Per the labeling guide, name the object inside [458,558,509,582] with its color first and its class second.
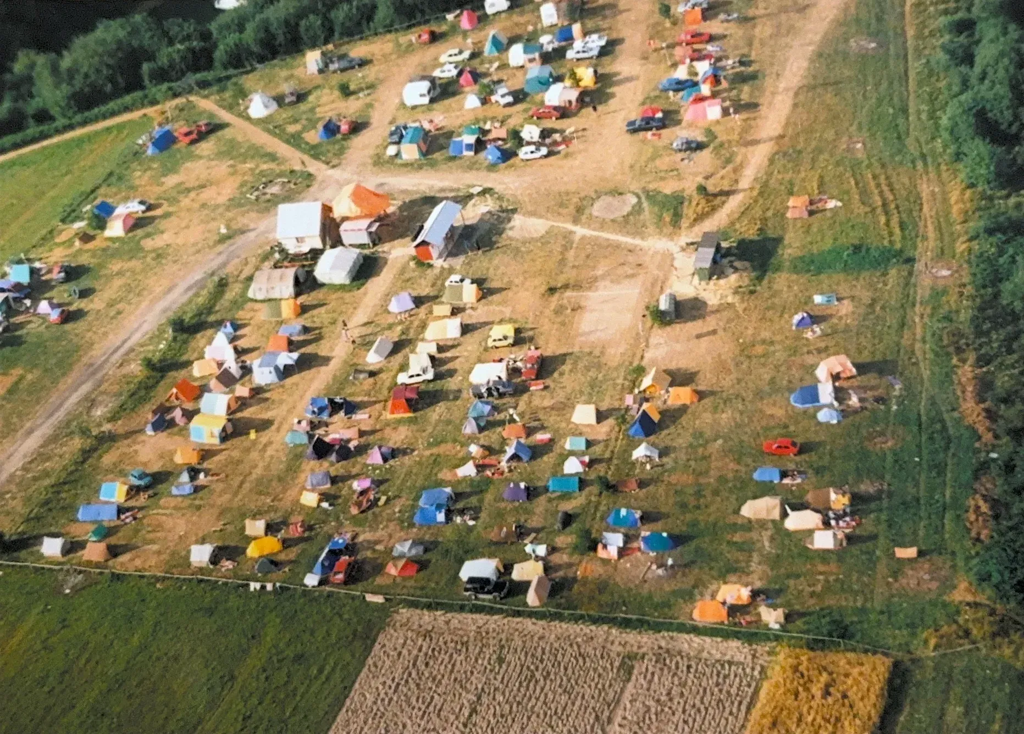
white tent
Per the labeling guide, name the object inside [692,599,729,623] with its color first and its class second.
orange tent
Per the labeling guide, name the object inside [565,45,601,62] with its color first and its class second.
white car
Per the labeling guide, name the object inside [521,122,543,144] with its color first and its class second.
white camper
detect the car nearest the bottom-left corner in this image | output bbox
[126,464,156,485]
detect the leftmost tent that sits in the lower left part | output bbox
[41,536,67,557]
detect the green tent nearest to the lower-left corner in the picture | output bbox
[83,523,110,542]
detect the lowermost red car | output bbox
[329,557,355,583]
